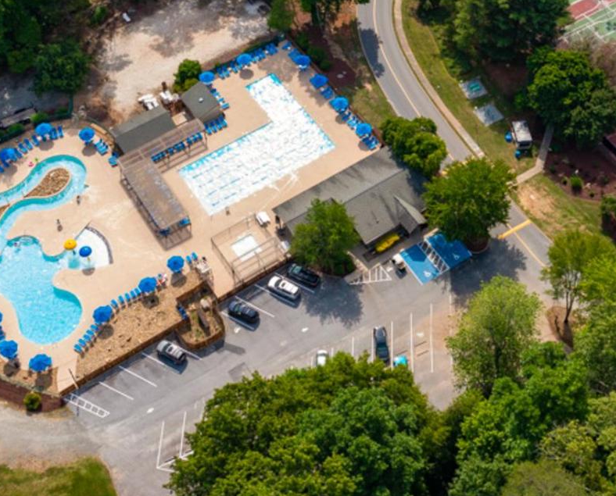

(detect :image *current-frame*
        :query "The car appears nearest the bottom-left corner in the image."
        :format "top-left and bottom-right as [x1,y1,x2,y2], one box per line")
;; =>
[156,341,187,365]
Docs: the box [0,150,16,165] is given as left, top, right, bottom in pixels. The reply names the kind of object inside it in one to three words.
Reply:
umbrella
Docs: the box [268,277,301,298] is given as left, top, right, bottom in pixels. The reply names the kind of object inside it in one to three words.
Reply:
car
